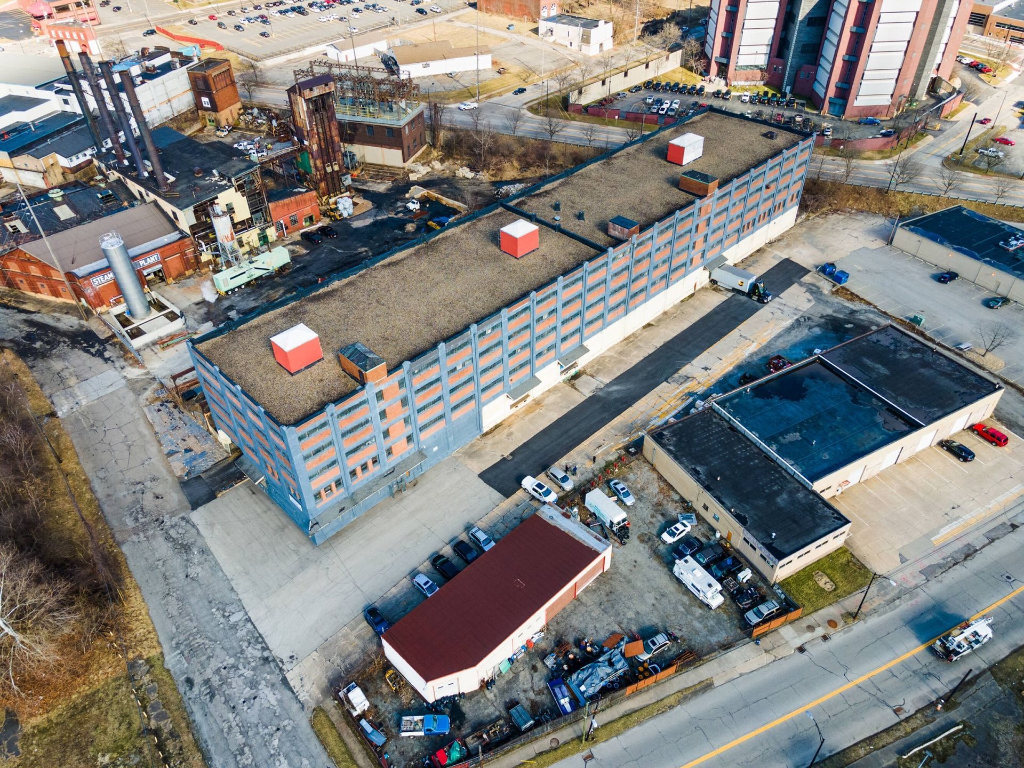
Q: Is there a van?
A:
Yes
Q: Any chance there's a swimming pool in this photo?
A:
No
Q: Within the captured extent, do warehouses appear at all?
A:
Yes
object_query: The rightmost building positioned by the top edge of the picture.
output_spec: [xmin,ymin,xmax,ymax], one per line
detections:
[970,1,1024,45]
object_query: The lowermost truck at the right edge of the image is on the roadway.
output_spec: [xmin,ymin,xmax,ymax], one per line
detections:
[932,611,997,661]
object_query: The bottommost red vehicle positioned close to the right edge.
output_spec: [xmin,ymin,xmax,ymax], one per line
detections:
[971,419,1011,448]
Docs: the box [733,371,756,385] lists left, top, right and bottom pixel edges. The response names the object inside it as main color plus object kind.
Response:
black car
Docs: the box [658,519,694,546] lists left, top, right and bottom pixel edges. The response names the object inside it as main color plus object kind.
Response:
white car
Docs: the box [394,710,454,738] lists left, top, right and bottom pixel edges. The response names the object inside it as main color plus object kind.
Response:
blue truck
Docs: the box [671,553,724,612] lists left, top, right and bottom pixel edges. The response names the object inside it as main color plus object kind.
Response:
white vehicle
